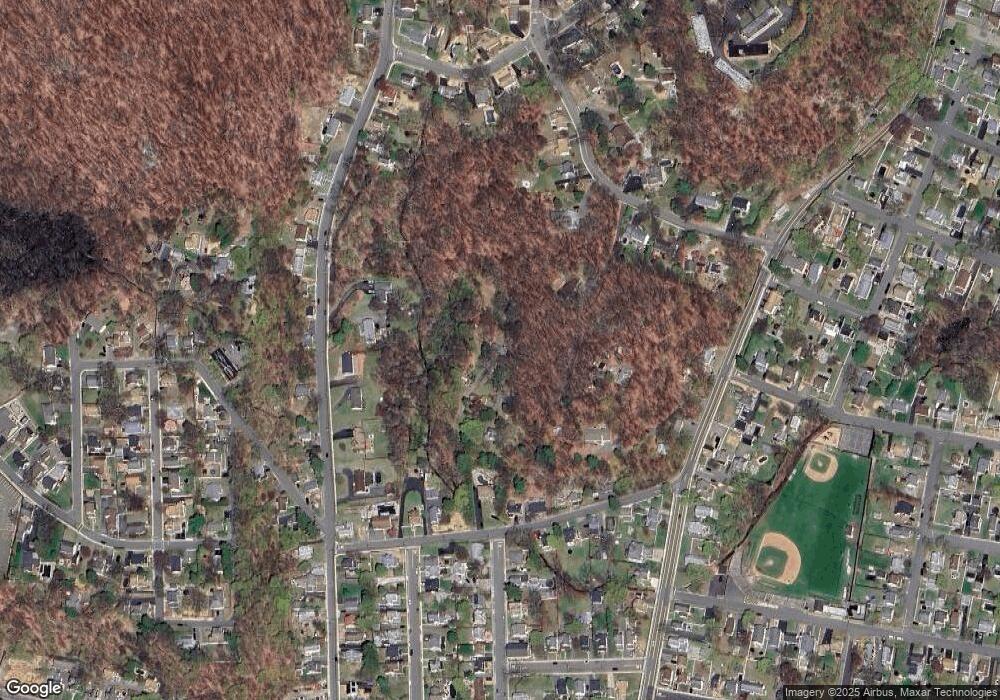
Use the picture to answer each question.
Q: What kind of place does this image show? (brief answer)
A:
residential area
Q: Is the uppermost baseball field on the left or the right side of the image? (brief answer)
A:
right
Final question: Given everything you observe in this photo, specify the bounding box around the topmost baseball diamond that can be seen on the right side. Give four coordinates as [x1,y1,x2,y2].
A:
[804,447,841,481]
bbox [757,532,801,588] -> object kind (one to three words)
baseball field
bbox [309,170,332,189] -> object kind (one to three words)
house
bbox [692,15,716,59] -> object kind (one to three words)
building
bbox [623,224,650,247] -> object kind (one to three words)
house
